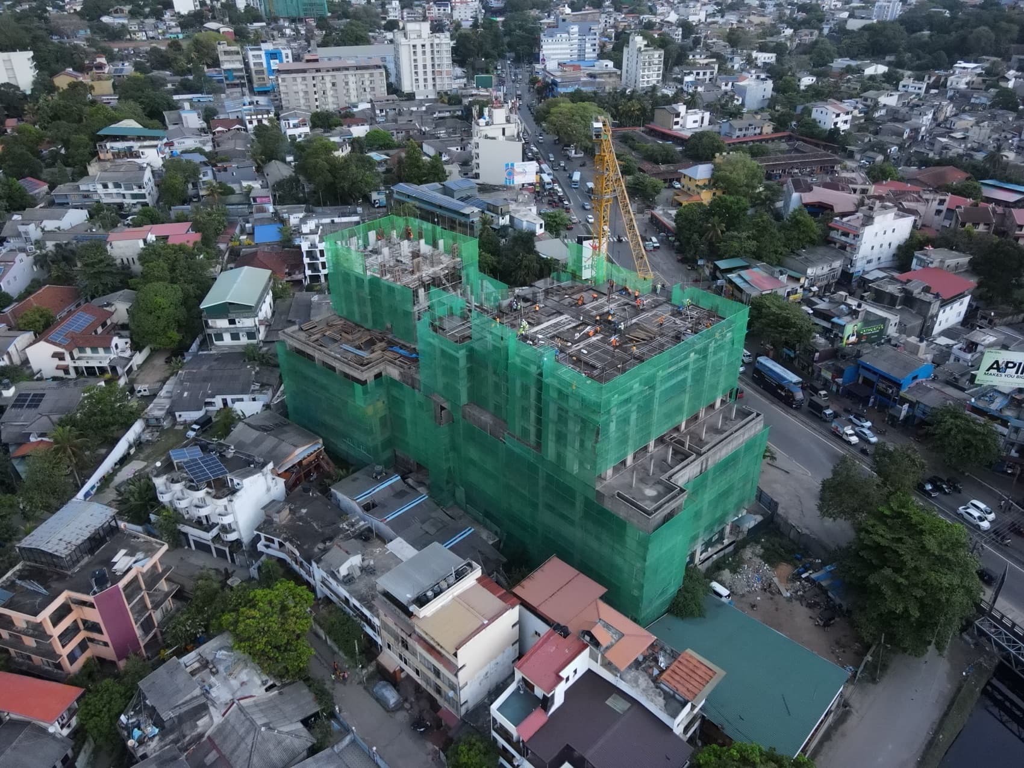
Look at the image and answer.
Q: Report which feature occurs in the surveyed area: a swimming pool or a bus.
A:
bus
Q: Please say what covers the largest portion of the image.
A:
buildings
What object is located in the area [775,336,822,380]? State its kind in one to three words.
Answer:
house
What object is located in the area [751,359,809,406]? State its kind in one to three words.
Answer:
bus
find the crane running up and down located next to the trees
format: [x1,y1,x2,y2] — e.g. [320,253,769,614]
[580,122,661,348]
